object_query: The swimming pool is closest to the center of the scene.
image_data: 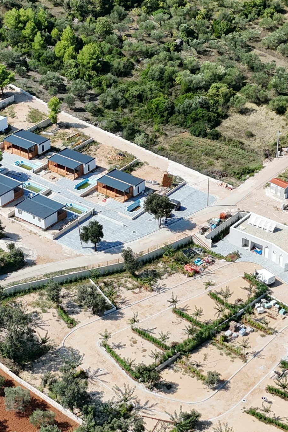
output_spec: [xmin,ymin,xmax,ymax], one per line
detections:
[122,198,144,214]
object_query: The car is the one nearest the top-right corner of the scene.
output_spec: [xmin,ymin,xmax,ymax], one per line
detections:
[170,197,185,210]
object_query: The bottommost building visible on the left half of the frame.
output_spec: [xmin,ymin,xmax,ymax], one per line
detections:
[15,194,67,230]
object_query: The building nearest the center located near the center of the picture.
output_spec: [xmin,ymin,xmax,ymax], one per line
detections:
[96,167,146,202]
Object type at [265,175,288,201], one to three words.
shed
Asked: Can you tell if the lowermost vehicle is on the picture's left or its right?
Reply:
right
